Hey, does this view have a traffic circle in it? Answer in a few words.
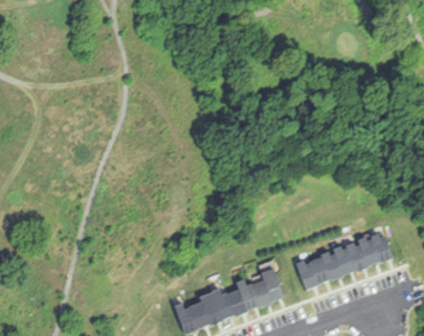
No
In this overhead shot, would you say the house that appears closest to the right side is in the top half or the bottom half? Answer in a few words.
bottom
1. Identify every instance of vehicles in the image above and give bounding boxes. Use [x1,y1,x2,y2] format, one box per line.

[248,326,254,336]
[370,282,376,292]
[341,292,348,303]
[363,284,370,294]
[329,328,340,335]
[348,326,360,336]
[398,272,404,283]
[242,328,248,336]
[414,290,424,297]
[330,296,337,307]
[414,284,424,290]
[265,320,272,331]
[280,314,287,324]
[306,316,318,324]
[352,288,358,298]
[298,308,306,319]
[287,312,294,322]
[402,290,412,300]
[416,296,424,303]
[254,324,262,336]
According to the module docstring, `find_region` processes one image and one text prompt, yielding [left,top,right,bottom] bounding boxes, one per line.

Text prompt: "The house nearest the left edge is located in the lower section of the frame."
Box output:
[174,270,283,335]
